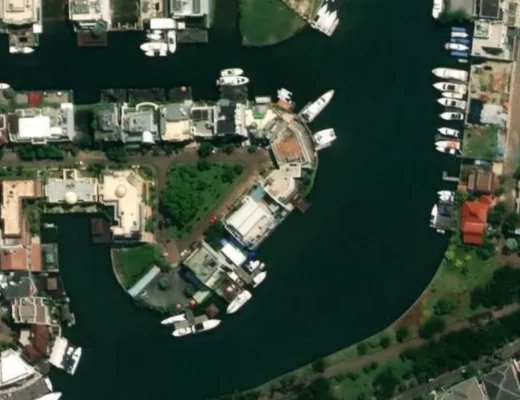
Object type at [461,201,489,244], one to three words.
house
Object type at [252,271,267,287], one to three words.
boat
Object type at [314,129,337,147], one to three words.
boat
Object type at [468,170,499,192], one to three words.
house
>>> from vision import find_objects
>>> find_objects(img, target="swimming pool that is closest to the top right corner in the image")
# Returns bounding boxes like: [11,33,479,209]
[468,100,483,123]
